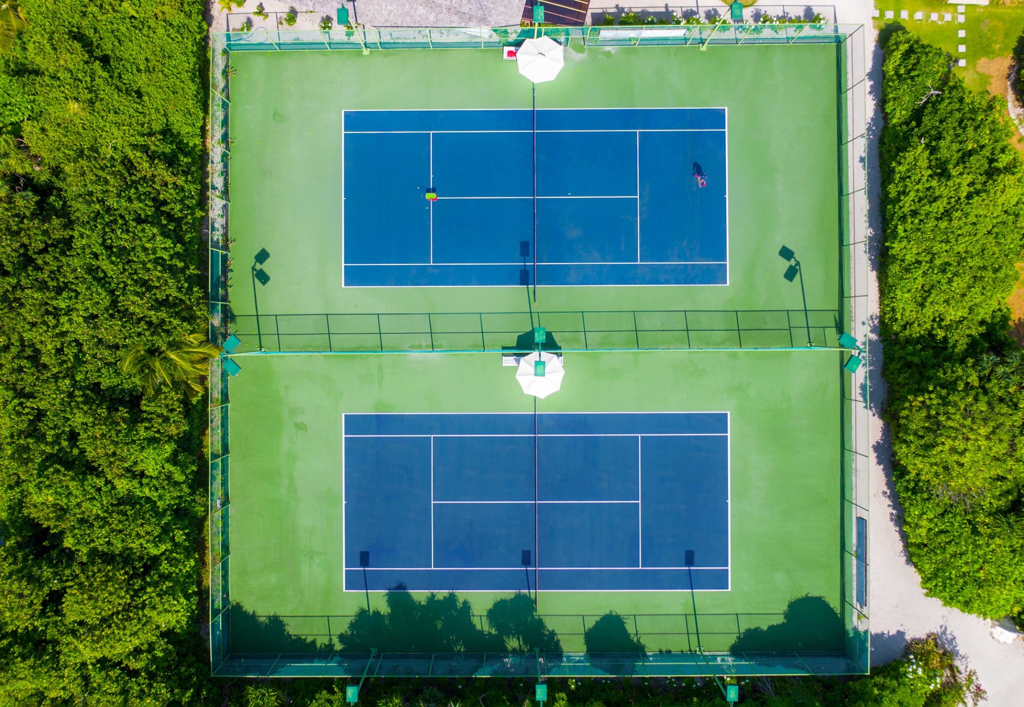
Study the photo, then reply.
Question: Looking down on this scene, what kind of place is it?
sports ground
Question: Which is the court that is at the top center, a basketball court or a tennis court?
tennis court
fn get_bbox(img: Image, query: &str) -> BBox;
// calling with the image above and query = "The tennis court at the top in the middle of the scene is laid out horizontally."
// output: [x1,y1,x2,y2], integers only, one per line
[228,35,851,350]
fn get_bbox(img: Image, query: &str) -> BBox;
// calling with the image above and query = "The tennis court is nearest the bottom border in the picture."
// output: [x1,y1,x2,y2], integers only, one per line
[228,350,852,657]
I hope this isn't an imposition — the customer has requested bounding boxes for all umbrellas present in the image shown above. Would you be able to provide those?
[517,35,564,84]
[516,352,565,400]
